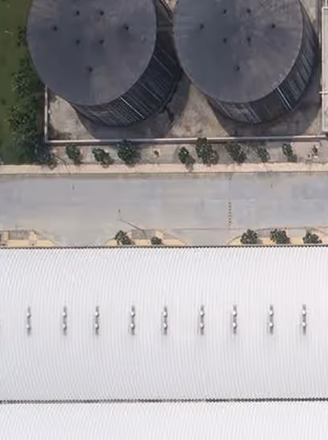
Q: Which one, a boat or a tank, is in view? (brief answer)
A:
tank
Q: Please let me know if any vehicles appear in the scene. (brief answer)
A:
No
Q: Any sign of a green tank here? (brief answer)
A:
No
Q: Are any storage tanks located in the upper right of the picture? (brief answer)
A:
Yes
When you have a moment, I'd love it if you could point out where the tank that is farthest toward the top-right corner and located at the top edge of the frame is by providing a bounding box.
[172,0,320,125]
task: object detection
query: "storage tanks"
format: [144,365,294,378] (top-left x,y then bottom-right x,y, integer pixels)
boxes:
[25,0,182,129]
[172,0,320,125]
